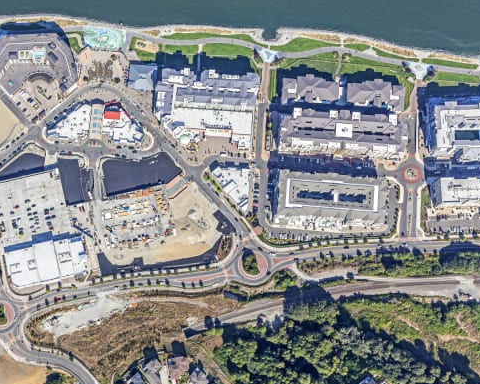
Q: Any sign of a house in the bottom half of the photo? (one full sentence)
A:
Yes, a house can be seen in the bottom half of the photo.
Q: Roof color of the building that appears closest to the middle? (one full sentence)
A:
The roof over the building that appears closest to the middle appears white.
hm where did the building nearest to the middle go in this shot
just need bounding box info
[212,166,250,210]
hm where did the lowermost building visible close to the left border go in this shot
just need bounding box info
[6,236,88,287]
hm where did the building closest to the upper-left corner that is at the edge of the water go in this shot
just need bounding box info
[0,33,79,96]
